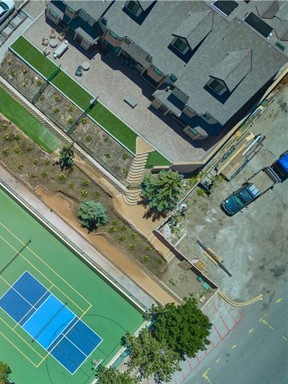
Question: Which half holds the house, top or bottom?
top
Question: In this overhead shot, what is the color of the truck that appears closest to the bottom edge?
blue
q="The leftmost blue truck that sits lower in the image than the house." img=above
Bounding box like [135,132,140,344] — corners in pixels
[218,182,261,214]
